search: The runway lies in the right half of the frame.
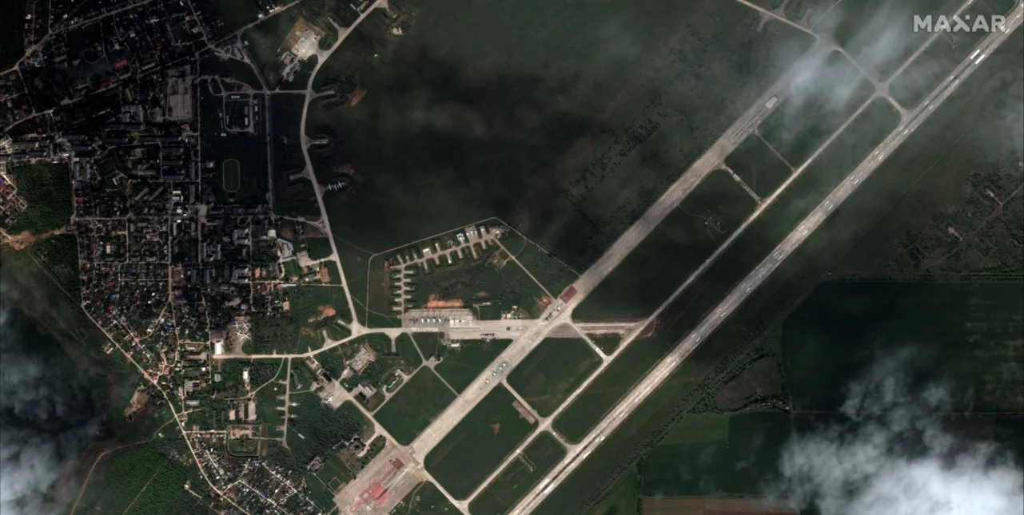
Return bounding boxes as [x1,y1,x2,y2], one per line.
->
[508,9,1024,515]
